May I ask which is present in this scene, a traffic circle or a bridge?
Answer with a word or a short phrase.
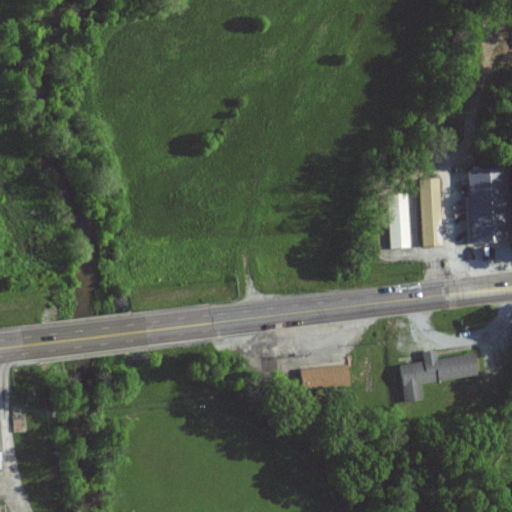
bridge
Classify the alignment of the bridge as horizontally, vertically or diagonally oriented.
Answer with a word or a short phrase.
horizontally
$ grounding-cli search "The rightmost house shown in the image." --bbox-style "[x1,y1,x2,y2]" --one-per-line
[468,172,510,244]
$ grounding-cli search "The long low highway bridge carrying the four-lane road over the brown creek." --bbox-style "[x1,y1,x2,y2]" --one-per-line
[20,311,148,365]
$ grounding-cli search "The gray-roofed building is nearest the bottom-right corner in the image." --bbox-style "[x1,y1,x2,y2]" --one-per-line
[400,349,476,401]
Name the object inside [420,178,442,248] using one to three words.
shed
